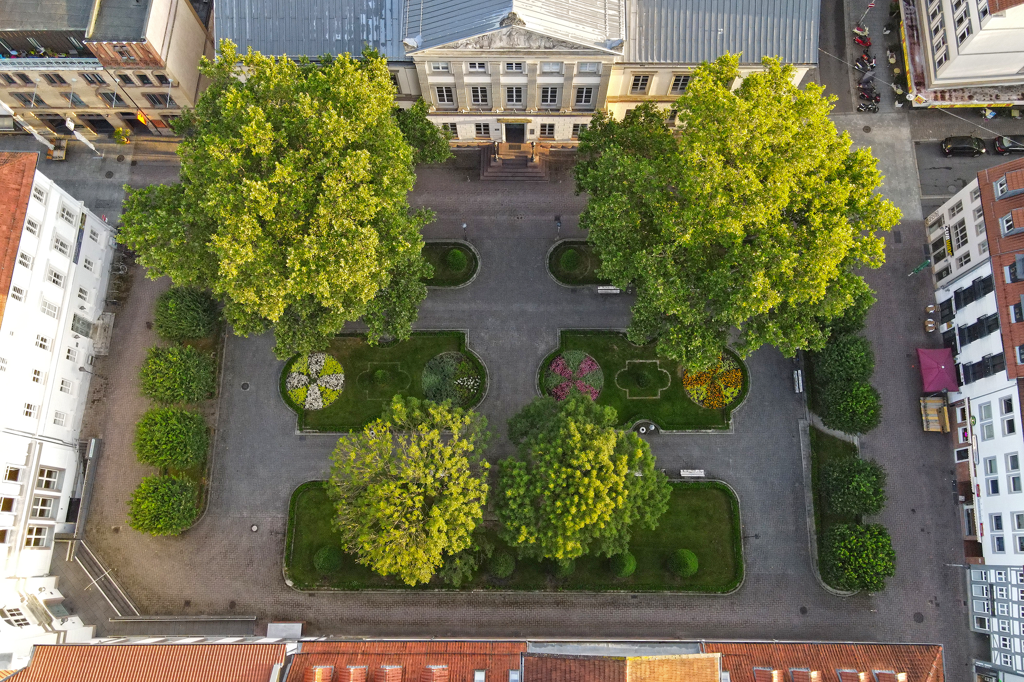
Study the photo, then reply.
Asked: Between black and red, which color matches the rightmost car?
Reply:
black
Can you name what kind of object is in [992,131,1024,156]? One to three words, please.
car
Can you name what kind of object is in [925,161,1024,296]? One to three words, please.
building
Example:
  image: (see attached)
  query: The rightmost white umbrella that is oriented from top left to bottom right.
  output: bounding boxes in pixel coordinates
[75,131,103,157]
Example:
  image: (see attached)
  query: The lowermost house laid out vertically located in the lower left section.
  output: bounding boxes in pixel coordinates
[0,433,94,651]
